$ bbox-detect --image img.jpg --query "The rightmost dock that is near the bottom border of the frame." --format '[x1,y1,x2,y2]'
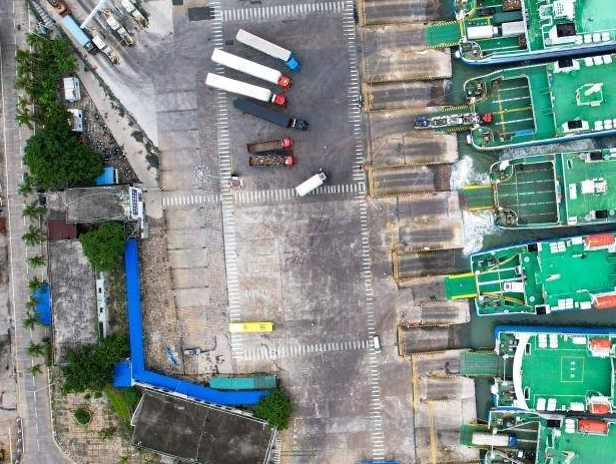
[401,349,481,464]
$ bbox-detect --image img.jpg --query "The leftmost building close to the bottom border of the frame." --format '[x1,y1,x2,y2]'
[131,386,282,464]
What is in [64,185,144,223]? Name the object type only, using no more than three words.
building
